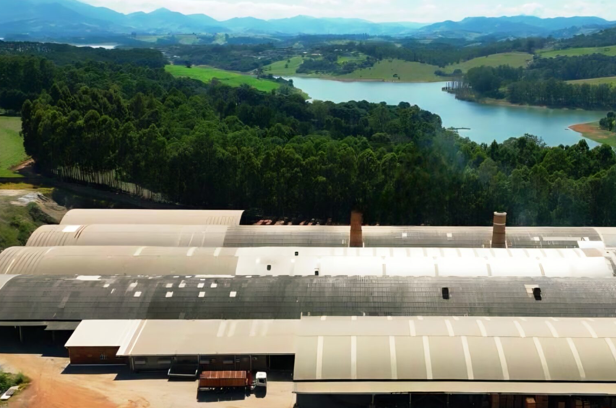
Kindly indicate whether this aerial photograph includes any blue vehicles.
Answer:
No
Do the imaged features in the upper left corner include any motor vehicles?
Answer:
No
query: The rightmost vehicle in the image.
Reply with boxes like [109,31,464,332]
[197,371,268,396]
